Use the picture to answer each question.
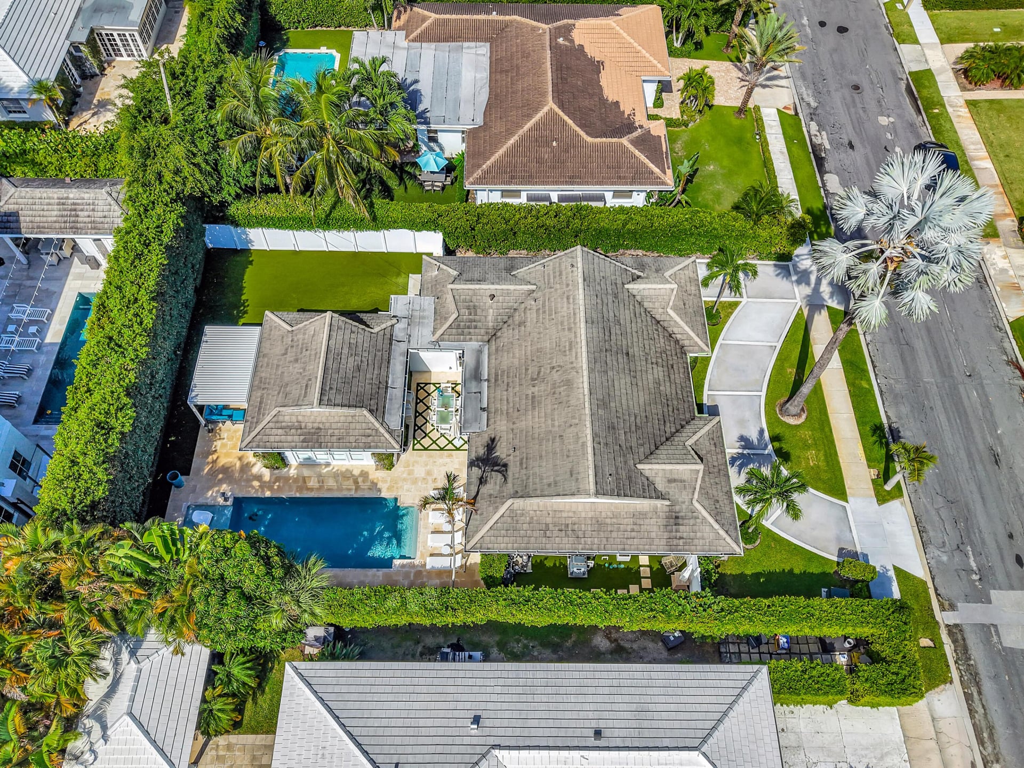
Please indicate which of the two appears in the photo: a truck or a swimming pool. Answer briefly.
swimming pool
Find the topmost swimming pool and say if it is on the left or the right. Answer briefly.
left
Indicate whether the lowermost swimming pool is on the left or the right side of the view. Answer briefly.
left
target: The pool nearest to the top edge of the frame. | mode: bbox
[256,46,343,128]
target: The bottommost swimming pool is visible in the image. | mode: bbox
[176,492,423,572]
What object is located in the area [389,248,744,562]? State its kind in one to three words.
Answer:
house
